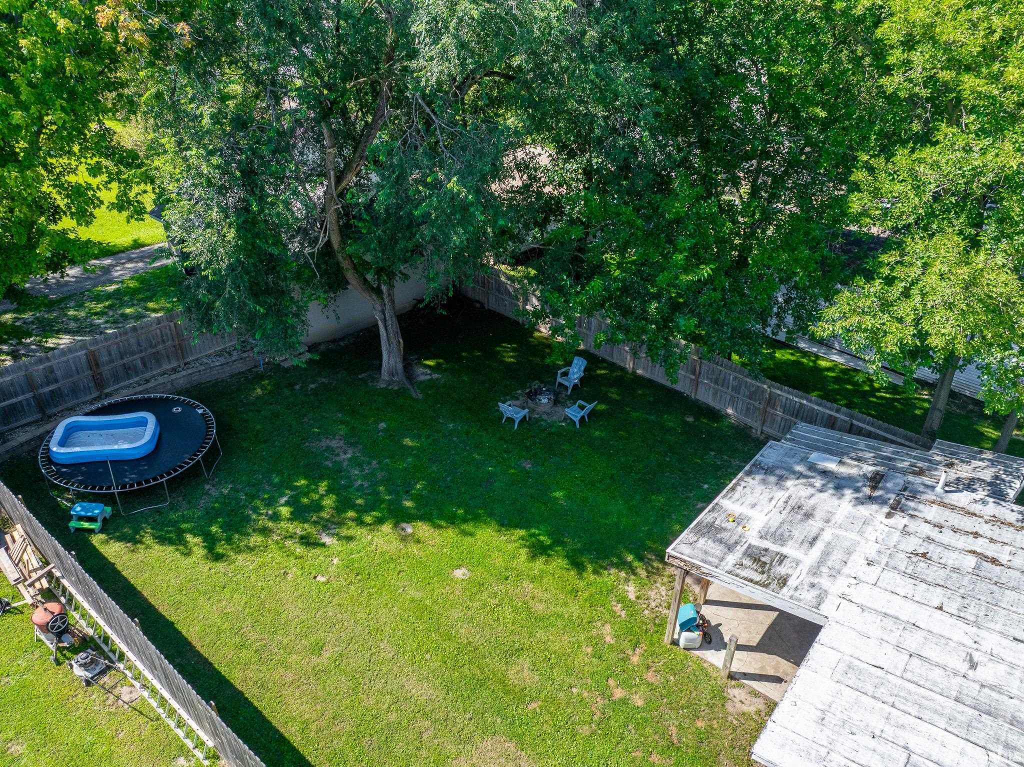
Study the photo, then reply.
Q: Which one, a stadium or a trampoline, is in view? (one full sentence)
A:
Of the two, only a trampoline appears.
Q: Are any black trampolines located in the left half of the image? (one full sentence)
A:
Yes, there is a black trampoline in the left half of the image.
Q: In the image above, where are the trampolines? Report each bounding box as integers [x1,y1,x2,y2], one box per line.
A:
[40,394,222,518]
